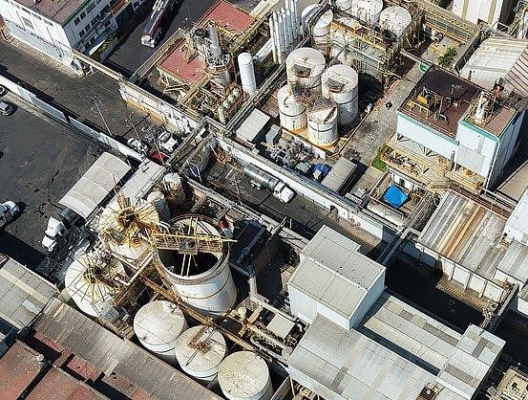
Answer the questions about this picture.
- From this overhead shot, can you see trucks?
Yes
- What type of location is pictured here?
industrial area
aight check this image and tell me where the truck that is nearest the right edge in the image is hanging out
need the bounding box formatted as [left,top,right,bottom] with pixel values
[245,164,293,206]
